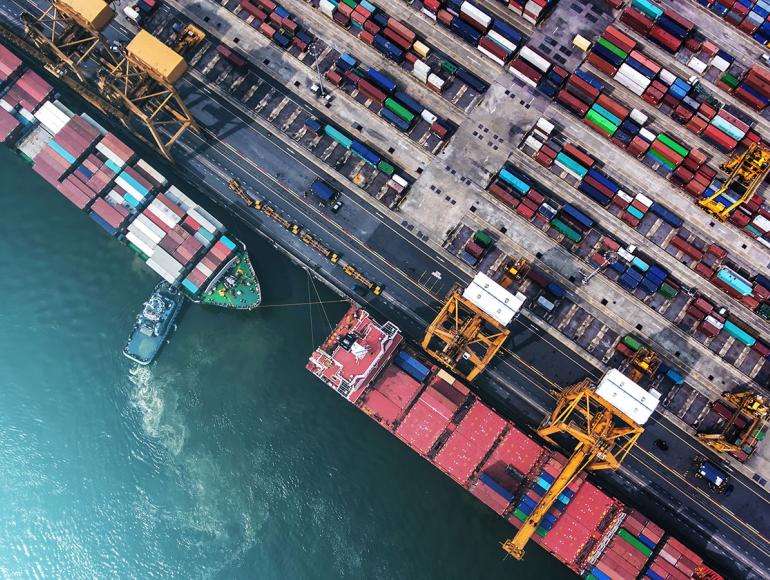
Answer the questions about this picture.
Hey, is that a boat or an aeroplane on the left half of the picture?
boat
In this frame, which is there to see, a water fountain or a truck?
truck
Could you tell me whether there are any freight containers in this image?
Yes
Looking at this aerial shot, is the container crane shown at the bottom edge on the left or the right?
right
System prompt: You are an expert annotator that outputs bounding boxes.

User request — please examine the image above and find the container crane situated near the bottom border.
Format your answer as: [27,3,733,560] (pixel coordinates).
[500,369,665,566]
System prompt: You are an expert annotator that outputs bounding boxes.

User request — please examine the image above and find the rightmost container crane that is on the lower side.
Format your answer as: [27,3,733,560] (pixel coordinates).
[697,390,770,452]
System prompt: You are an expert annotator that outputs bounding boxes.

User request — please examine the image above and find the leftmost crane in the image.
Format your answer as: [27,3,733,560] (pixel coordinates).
[9,0,132,116]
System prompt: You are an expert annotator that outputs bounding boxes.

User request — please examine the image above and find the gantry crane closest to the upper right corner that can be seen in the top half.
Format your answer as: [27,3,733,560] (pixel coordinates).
[696,147,770,223]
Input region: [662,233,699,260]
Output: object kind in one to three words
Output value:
shipping container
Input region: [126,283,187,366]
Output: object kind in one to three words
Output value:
boat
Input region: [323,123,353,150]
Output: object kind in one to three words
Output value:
shipping container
